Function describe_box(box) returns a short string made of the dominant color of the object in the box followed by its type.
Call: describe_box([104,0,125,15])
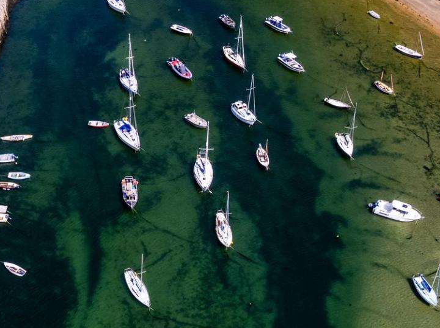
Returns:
white boat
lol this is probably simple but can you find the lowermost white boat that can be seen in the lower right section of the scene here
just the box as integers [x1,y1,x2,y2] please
[411,259,440,313]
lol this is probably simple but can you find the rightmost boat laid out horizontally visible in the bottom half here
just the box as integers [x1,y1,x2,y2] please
[372,205,427,223]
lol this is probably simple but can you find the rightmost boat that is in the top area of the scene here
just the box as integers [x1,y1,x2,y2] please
[394,35,427,63]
